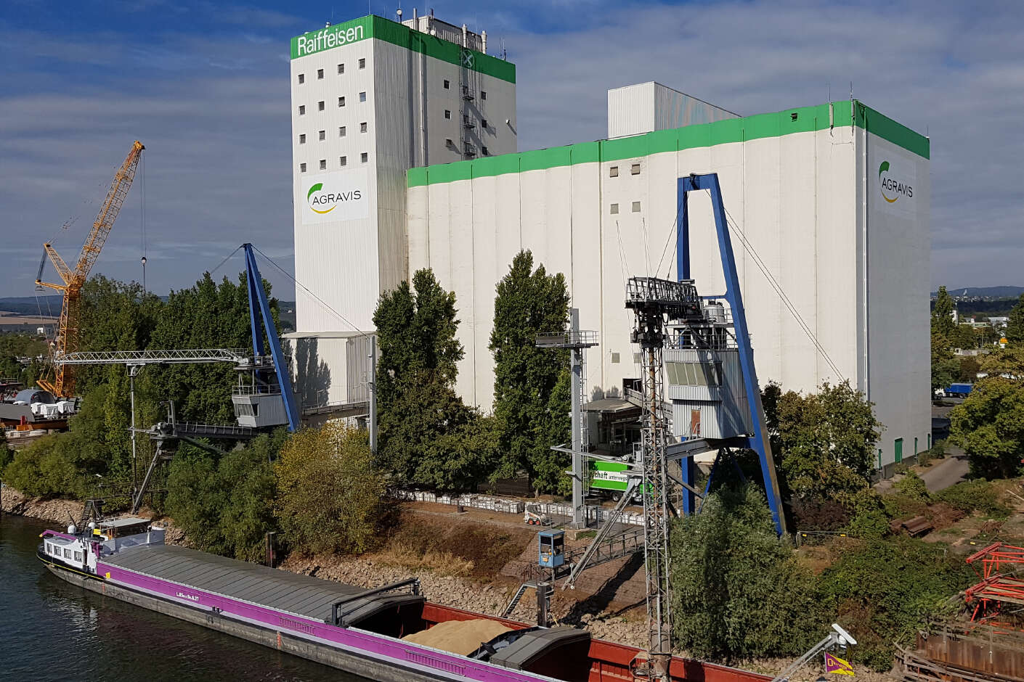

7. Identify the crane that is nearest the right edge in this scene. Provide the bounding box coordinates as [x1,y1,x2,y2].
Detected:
[612,173,834,682]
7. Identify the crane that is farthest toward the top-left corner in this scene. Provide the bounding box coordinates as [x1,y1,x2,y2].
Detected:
[33,140,147,399]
